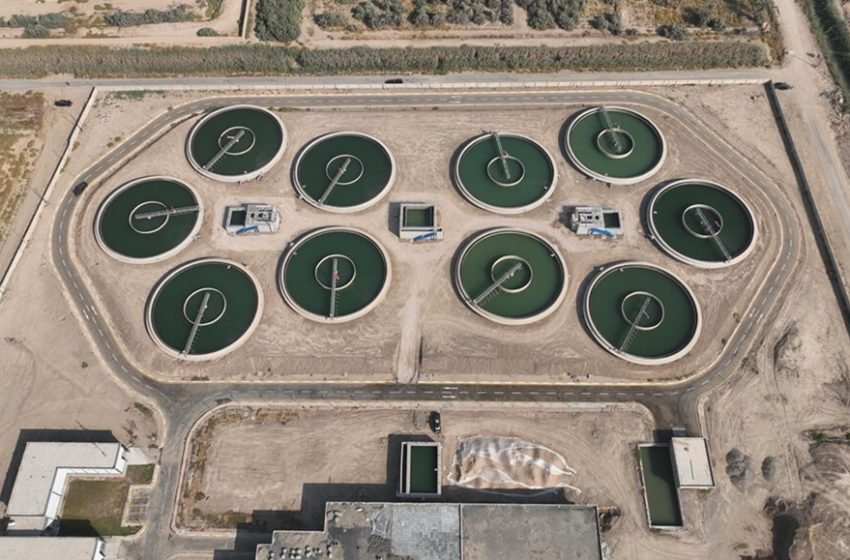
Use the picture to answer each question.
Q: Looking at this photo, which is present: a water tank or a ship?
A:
water tank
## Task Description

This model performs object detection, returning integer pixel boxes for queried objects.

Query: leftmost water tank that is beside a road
[95,175,203,263]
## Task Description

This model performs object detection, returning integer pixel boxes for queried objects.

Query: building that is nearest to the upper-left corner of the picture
[226,203,281,235]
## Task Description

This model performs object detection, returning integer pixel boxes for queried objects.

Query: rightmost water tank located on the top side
[647,179,756,268]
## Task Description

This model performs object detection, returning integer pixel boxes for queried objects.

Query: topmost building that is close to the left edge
[6,442,129,519]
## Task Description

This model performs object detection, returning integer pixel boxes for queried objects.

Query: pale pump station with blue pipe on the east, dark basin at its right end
[570,205,623,237]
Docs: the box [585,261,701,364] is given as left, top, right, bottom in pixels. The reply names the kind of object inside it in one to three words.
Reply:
water tank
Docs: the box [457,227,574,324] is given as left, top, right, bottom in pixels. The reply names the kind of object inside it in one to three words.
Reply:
water tank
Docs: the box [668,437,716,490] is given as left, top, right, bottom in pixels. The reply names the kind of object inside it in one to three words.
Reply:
building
